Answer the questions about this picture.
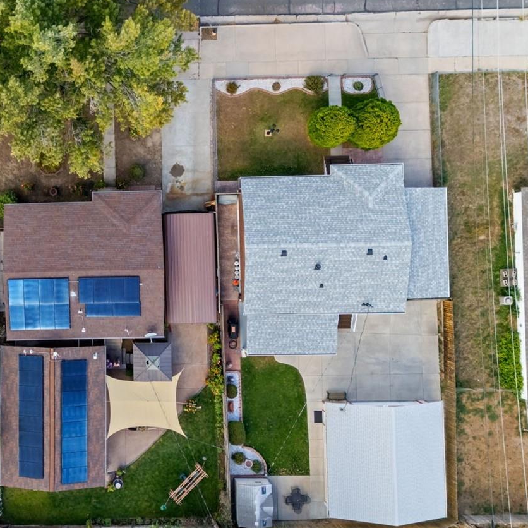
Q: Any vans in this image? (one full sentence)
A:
No, I can see no van in this picture.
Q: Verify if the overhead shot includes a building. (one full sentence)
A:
Yes, there's a building here.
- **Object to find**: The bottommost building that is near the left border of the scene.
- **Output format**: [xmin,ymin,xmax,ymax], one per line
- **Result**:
[0,340,107,492]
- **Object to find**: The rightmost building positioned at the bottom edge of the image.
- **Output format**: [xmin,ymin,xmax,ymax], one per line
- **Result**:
[317,397,447,527]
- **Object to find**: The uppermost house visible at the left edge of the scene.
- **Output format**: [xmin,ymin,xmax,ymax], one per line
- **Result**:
[2,189,166,350]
